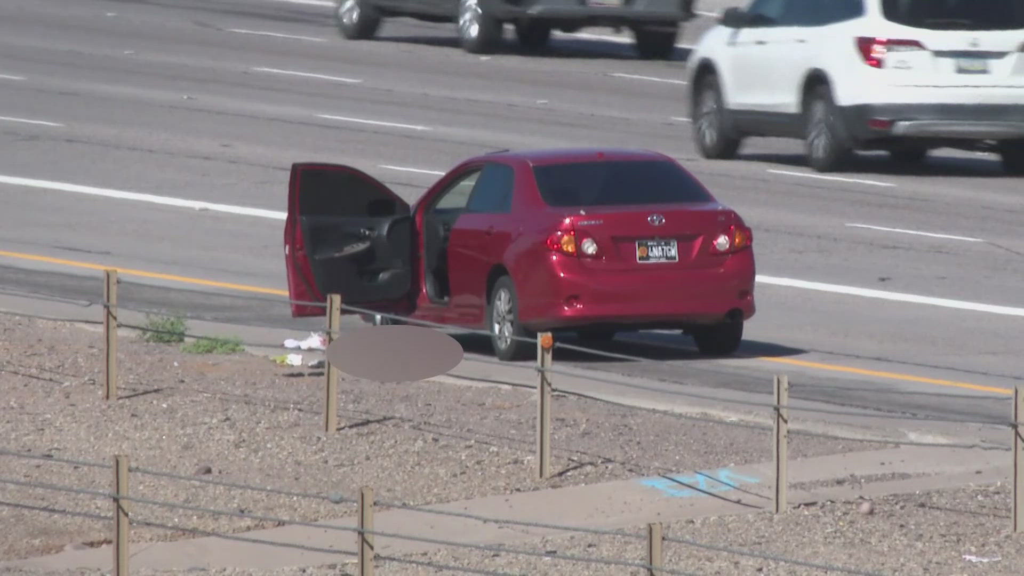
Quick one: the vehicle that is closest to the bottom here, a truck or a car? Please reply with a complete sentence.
It turns out the vehicle that is closest to the bottom is a car.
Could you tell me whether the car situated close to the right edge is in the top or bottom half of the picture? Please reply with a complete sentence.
The car situated close to the right edge is in the top half of the image.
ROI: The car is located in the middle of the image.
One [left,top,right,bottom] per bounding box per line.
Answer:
[286,148,757,361]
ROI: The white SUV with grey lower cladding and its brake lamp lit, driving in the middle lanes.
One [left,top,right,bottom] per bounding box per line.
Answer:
[687,0,1024,174]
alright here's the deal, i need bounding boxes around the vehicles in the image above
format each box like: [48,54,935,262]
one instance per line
[336,0,706,56]
[687,0,1024,174]
[286,148,757,361]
